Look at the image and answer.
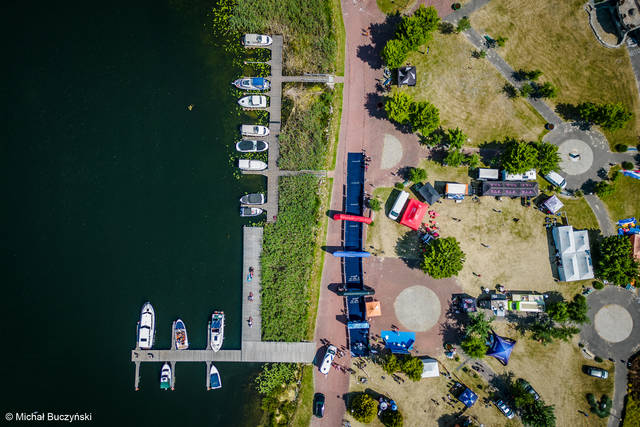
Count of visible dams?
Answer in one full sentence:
No dams are visible.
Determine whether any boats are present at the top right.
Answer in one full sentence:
No, looking at the top right, there is no boat.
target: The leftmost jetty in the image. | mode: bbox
[132,319,242,390]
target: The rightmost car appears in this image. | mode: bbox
[586,365,609,380]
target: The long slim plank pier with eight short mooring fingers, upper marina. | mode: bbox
[241,35,282,221]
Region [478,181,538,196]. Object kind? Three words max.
tent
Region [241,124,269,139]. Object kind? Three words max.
boat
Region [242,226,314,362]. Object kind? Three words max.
pier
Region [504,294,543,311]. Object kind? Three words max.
vehicle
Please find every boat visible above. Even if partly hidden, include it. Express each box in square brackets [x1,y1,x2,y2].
[172,319,189,351]
[241,124,269,139]
[236,138,268,154]
[210,311,228,352]
[238,206,262,216]
[234,76,272,92]
[136,303,157,352]
[159,362,171,392]
[242,33,272,49]
[209,364,222,391]
[238,159,268,171]
[240,193,264,207]
[238,94,267,108]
